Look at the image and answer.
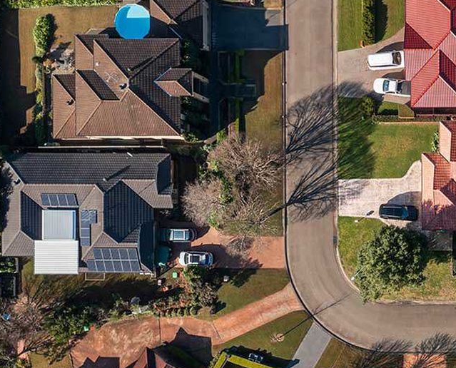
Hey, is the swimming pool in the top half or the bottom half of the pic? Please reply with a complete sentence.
You can find the swimming pool in the top half.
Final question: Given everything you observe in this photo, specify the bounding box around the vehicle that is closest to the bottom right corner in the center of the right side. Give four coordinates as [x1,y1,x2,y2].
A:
[380,204,418,220]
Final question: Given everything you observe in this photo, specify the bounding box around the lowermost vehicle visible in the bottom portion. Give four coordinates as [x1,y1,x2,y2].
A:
[178,250,214,267]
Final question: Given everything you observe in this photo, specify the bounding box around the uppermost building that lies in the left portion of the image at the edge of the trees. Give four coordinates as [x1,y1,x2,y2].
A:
[51,0,214,138]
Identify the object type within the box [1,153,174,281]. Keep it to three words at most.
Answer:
house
